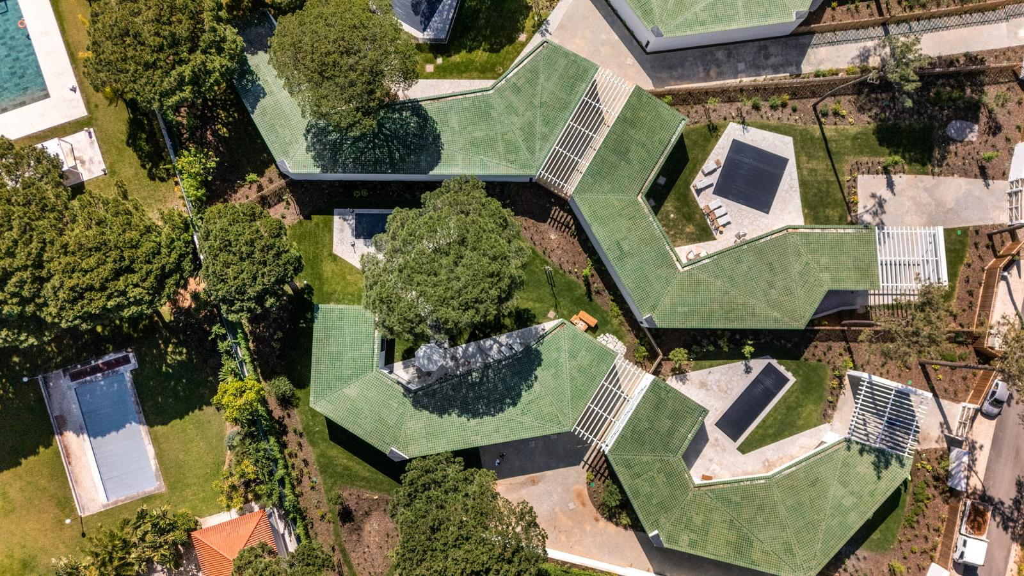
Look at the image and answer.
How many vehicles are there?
2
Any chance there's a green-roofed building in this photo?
Yes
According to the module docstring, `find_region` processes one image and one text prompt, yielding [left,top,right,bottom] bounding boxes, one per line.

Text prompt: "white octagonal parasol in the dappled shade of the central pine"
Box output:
[417,343,445,371]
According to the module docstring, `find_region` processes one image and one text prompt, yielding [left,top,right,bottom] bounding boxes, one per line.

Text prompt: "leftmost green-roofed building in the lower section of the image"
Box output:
[310,304,619,459]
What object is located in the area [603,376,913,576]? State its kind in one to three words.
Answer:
building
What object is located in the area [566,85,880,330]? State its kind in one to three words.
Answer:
building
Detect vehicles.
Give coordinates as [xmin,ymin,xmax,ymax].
[981,374,1015,415]
[954,500,1000,571]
